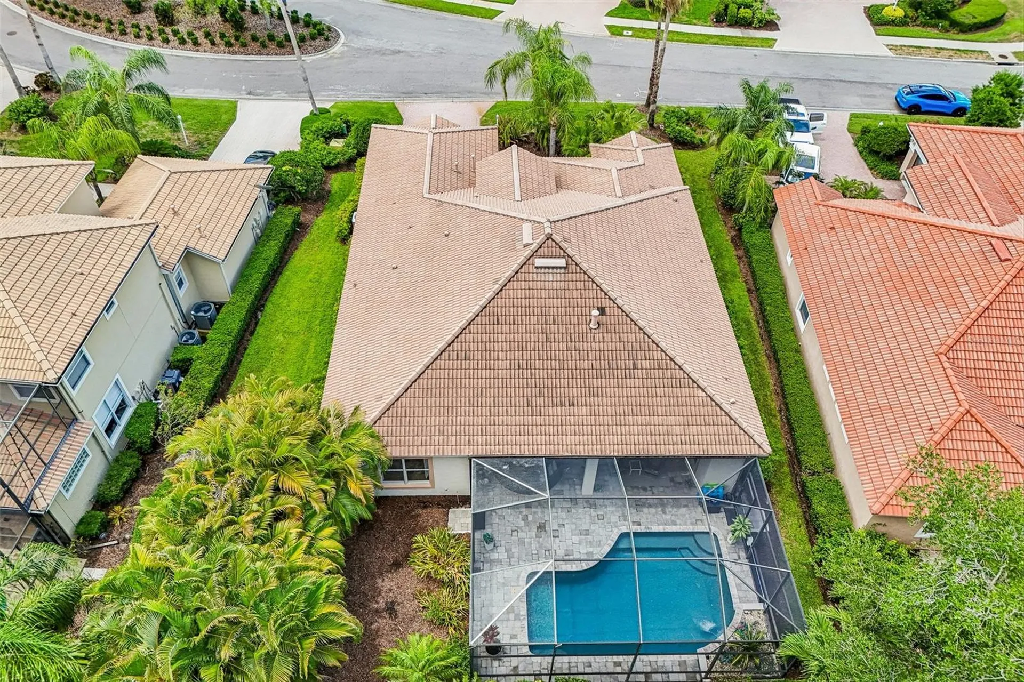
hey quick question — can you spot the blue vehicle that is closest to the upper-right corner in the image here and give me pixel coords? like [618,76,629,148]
[894,79,970,113]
